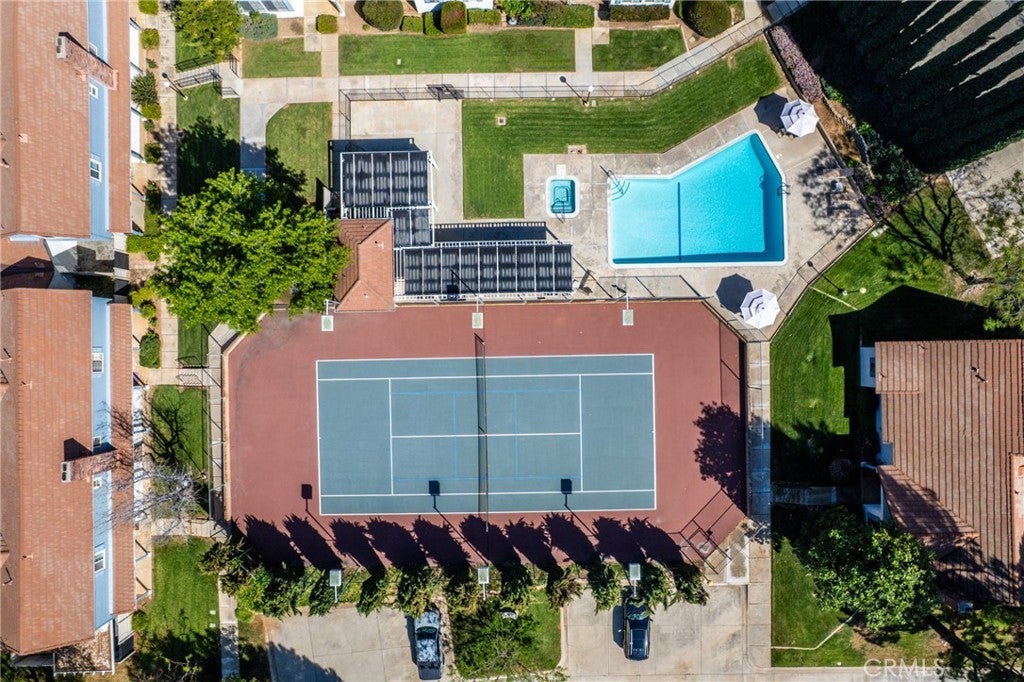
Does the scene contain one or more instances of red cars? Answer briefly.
No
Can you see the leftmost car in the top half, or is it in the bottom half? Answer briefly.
bottom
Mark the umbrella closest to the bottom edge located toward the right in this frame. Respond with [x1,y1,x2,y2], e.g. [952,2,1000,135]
[739,289,779,328]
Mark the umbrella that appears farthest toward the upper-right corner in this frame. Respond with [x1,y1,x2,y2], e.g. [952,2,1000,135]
[779,99,818,138]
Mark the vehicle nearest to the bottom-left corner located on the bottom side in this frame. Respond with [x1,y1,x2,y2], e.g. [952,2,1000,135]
[410,607,442,680]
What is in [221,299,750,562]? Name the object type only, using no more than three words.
tennis court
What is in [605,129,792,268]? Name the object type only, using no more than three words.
swimming pool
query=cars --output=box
[410,607,442,680]
[621,593,654,663]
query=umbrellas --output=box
[739,289,779,328]
[779,99,818,138]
